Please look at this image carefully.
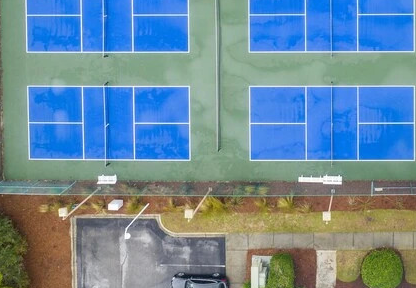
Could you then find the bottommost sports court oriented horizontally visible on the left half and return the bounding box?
[27,85,190,161]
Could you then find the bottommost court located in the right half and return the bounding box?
[249,85,416,162]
